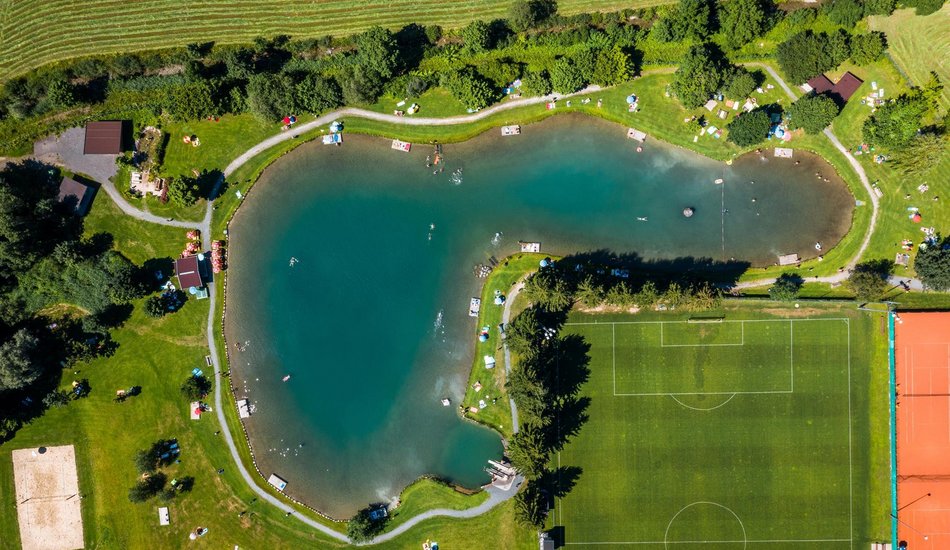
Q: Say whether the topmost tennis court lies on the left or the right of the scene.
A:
right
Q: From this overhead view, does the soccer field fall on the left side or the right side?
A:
right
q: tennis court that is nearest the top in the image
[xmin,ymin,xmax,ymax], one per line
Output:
[893,311,950,477]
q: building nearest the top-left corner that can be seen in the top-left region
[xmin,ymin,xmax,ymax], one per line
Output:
[84,120,126,155]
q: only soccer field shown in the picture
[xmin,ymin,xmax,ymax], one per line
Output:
[553,308,873,550]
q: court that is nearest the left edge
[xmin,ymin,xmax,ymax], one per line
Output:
[12,445,85,550]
